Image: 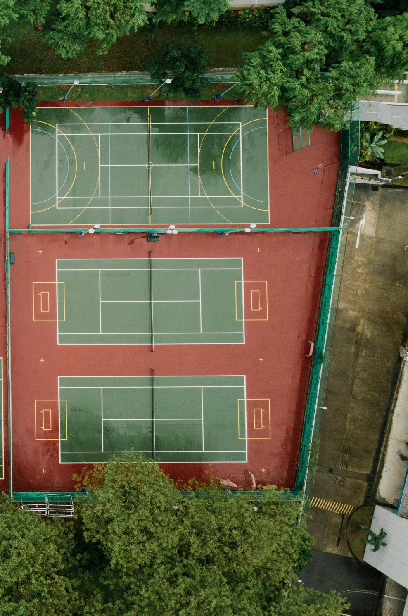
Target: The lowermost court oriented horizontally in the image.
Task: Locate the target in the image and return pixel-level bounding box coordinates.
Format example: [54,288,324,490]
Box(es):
[35,375,271,473]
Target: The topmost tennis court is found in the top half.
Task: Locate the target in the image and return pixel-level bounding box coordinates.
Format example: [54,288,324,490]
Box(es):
[30,105,270,225]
